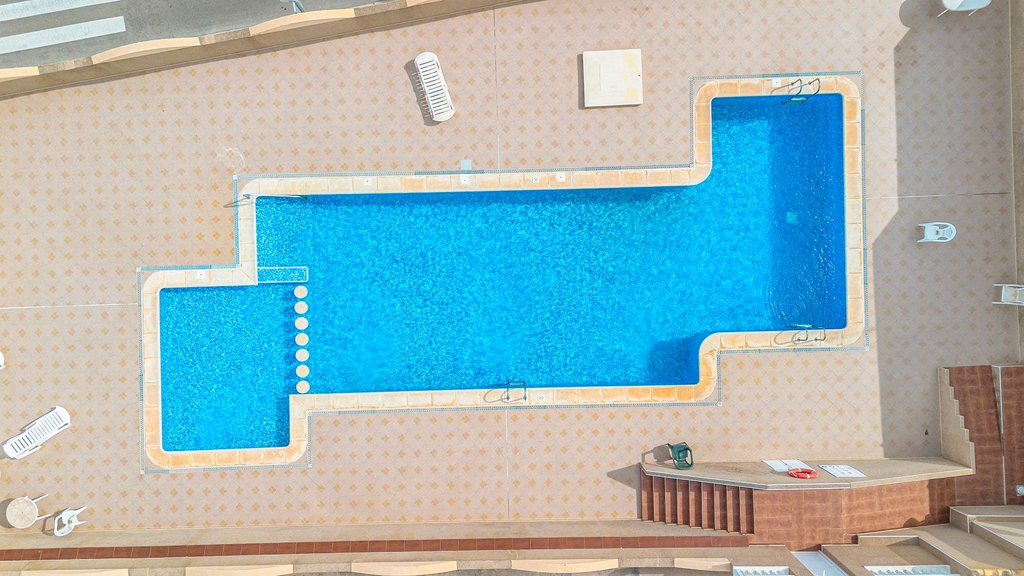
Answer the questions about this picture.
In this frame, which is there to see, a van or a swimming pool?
swimming pool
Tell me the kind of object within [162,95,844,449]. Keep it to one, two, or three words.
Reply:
swimming pool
